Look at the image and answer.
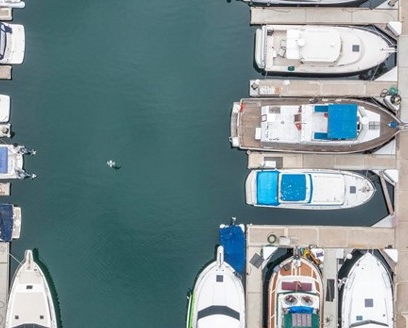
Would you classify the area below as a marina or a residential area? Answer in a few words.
marina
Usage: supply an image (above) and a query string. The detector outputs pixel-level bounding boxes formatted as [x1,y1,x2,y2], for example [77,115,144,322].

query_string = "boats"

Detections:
[243,163,378,215]
[187,246,247,328]
[218,217,247,273]
[334,252,399,328]
[264,245,328,328]
[0,139,37,180]
[0,0,23,8]
[254,24,398,79]
[6,250,57,328]
[0,202,22,239]
[0,22,26,64]
[231,97,408,163]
